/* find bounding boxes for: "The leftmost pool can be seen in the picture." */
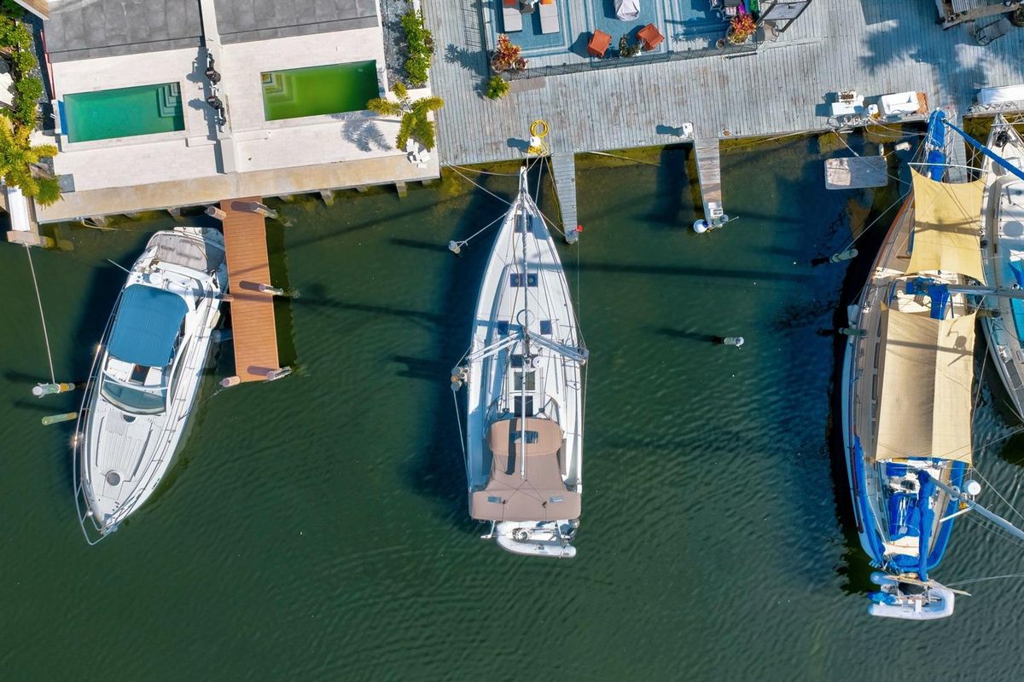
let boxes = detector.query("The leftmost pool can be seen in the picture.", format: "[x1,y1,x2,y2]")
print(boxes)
[56,74,193,150]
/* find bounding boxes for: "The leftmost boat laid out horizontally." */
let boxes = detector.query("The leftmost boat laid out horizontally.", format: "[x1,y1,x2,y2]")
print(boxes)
[495,521,579,559]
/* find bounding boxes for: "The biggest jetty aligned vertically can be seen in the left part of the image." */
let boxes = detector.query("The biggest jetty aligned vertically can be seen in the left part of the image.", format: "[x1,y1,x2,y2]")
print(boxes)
[220,198,282,383]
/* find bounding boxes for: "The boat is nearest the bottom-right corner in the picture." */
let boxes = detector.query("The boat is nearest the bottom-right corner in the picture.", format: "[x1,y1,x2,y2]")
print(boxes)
[865,571,955,621]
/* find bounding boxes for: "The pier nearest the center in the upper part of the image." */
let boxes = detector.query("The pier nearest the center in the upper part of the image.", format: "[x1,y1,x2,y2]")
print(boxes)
[550,152,580,244]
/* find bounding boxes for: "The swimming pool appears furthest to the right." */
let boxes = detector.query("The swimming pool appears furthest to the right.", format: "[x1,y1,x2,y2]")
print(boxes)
[254,52,387,128]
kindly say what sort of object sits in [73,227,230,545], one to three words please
boat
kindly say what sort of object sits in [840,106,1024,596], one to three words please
boat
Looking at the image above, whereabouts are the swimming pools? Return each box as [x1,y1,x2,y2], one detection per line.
[254,52,387,128]
[56,74,193,150]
